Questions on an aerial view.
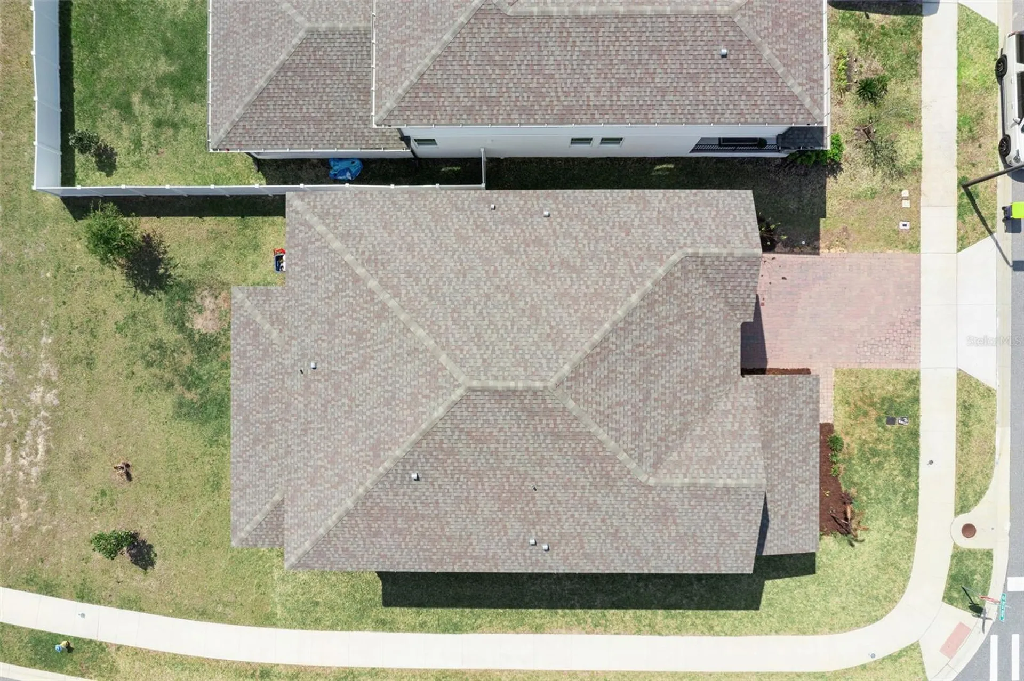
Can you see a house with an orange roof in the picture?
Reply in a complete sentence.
No, the picture doesn't show any house with an orange roof.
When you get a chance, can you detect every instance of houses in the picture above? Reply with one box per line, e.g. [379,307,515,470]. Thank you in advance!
[206,0,830,158]
[228,187,819,574]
